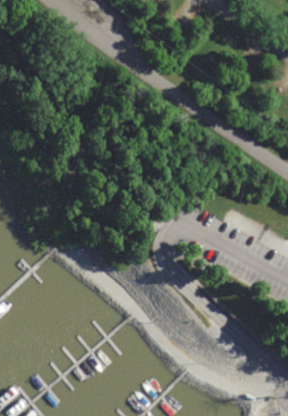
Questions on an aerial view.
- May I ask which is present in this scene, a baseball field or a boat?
boat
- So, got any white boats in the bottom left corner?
Yes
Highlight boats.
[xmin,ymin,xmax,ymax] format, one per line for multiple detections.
[143,407,153,416]
[2,394,32,416]
[158,399,175,416]
[24,406,41,416]
[42,390,58,408]
[142,382,158,399]
[135,391,152,408]
[86,353,102,372]
[129,397,144,413]
[96,350,112,366]
[0,300,11,316]
[74,365,88,380]
[0,384,21,410]
[79,358,96,378]
[150,377,162,392]
[32,374,46,392]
